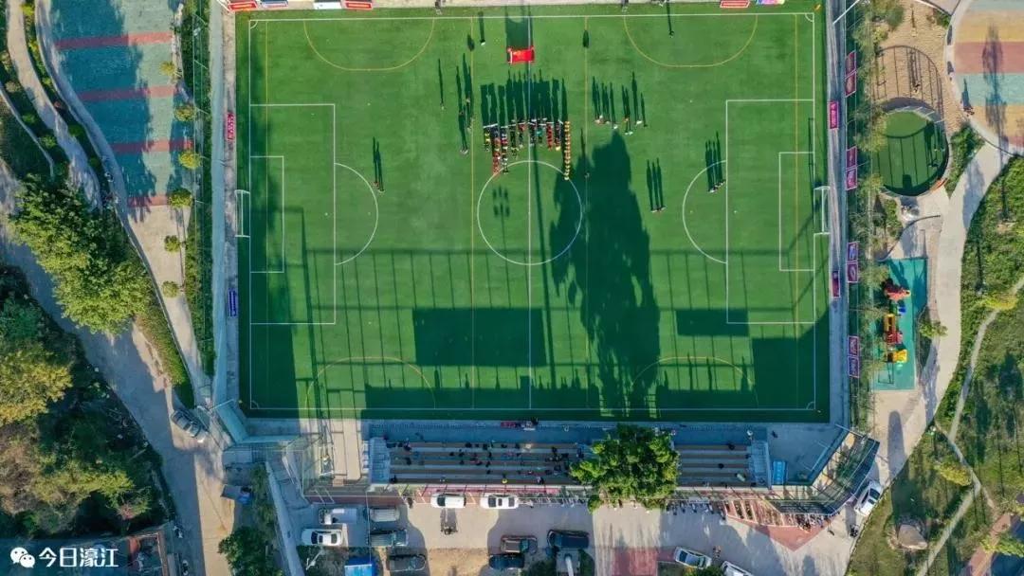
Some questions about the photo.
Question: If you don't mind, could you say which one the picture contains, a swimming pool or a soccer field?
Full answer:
This aerial view contains a soccer field.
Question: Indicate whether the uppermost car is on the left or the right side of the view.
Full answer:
You can find the uppermost car on the left side of the picture.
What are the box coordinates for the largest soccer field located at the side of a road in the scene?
[236,3,831,421]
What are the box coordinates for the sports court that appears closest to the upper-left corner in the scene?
[51,0,199,206]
